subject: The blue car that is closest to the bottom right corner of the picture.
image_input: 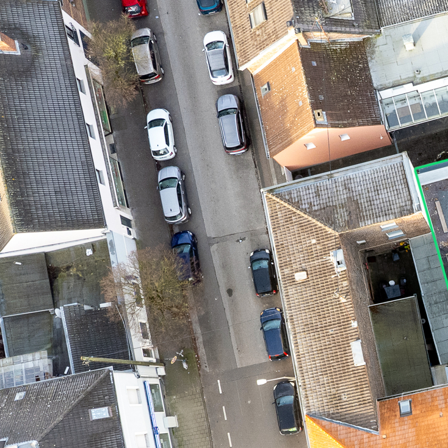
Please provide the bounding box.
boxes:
[259,306,292,362]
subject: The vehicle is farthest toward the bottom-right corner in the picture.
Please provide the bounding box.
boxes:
[268,380,303,436]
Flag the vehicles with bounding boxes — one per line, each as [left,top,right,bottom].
[169,230,203,285]
[247,248,279,298]
[144,108,179,163]
[259,306,292,362]
[156,166,191,225]
[203,30,236,88]
[195,0,223,18]
[132,27,166,87]
[268,380,303,436]
[213,93,250,157]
